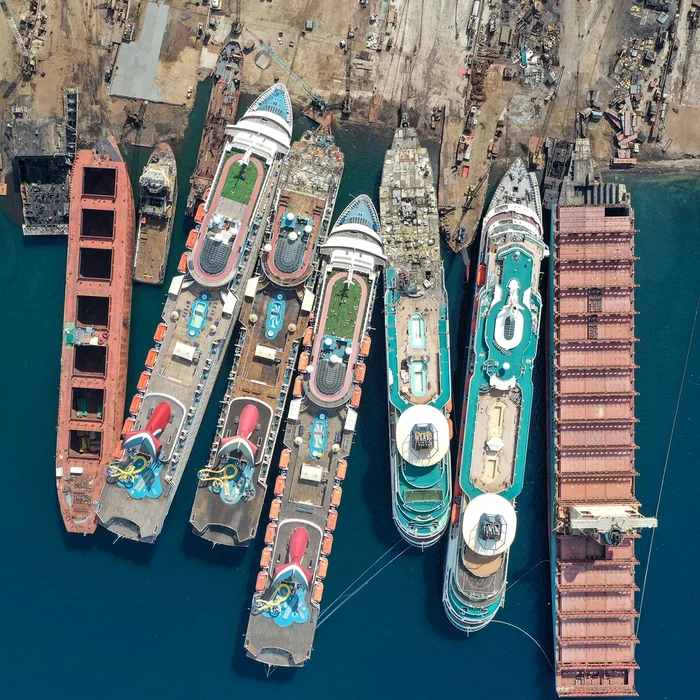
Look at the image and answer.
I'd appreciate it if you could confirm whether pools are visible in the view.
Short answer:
Yes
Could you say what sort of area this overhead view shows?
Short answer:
port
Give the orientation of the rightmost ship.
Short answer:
from top to bottom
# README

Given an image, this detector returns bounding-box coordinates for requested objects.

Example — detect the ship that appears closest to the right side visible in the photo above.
[543,124,661,698]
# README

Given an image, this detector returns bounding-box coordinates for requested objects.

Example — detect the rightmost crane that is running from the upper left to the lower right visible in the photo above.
[245,29,327,113]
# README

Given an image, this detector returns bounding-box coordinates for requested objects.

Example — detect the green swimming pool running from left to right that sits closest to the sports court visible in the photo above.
[405,487,442,504]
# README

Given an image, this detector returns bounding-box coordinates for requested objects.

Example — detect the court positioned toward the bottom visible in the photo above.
[463,567,496,592]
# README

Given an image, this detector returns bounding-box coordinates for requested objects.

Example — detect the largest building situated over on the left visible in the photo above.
[110,2,172,102]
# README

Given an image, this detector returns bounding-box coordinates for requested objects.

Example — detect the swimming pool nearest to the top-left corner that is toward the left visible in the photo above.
[186,288,211,337]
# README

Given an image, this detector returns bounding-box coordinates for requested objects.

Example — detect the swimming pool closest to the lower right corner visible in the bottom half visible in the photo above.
[483,455,498,484]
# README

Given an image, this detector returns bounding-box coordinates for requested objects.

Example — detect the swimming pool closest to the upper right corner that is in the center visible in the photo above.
[409,312,426,349]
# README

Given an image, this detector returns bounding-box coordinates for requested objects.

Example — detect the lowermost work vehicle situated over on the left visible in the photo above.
[117,112,141,133]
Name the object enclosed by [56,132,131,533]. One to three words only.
ship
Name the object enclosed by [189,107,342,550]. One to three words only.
ship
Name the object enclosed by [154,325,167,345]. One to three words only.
boat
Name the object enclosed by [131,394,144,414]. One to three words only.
boat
